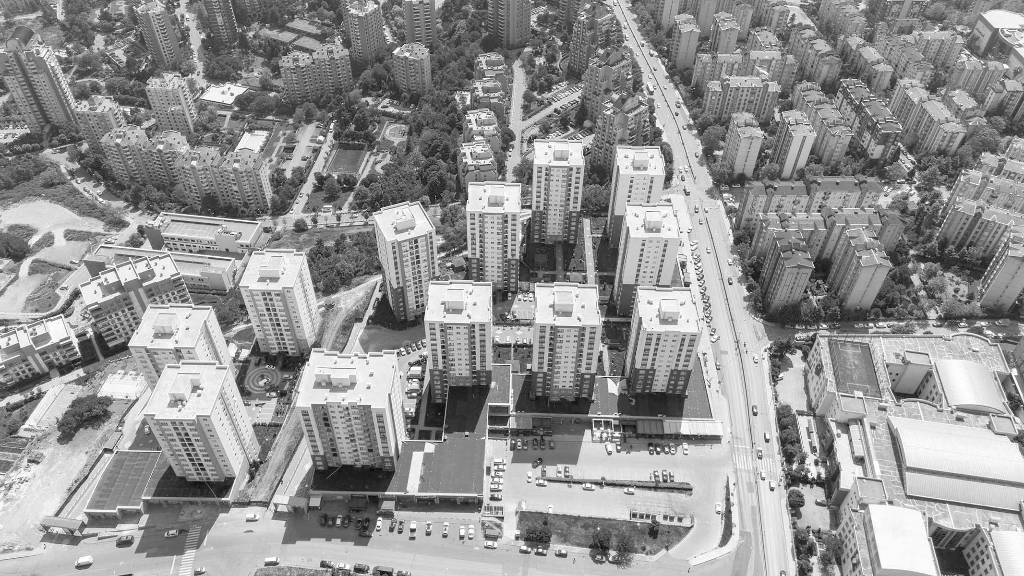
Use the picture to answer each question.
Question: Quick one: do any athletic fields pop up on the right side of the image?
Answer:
Yes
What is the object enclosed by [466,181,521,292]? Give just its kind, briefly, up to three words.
building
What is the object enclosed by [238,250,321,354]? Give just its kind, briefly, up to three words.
building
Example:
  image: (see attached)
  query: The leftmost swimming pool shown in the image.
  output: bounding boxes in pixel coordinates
[239,132,267,149]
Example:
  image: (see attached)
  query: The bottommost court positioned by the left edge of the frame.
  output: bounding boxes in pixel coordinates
[18,384,87,433]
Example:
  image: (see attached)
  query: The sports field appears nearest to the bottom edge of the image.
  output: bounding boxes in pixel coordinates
[828,341,880,398]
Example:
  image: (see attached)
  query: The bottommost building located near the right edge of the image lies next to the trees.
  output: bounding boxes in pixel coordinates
[807,332,1024,576]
